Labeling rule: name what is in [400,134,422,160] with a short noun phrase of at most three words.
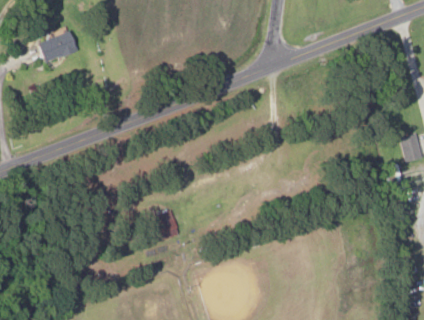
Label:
shed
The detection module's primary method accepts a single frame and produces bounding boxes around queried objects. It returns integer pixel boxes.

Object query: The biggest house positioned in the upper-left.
[36,26,76,62]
